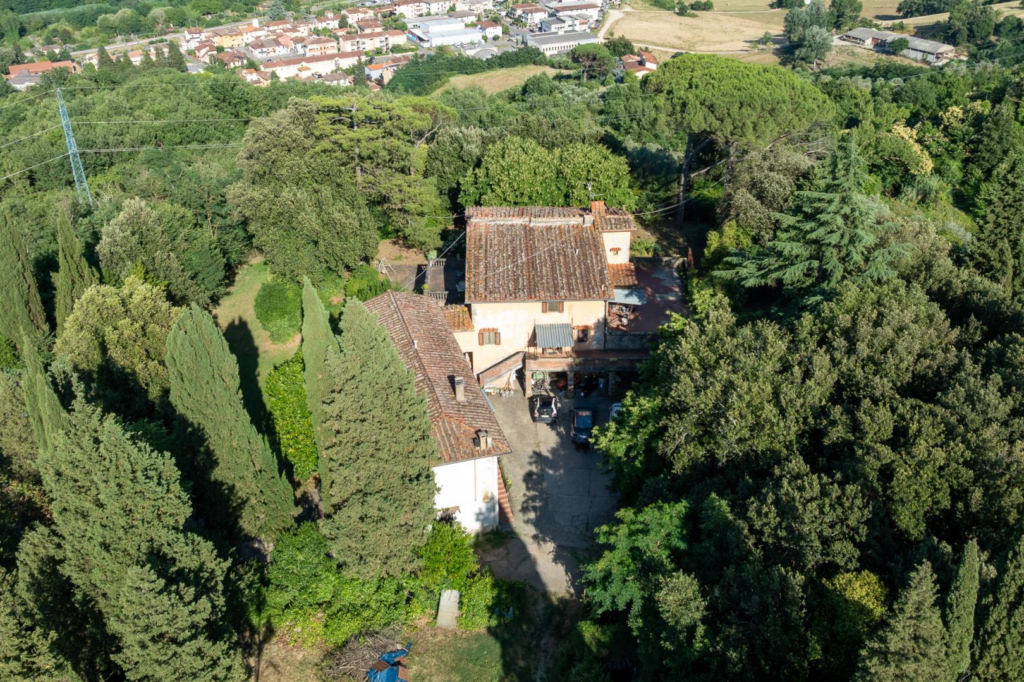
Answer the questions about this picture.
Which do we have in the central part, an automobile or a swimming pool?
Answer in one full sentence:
Visible in the central part is an automobile.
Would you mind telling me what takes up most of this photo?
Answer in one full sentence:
Most of the picture is covered by trees.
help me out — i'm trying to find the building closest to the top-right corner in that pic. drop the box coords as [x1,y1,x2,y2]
[896,35,960,61]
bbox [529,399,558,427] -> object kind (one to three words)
car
